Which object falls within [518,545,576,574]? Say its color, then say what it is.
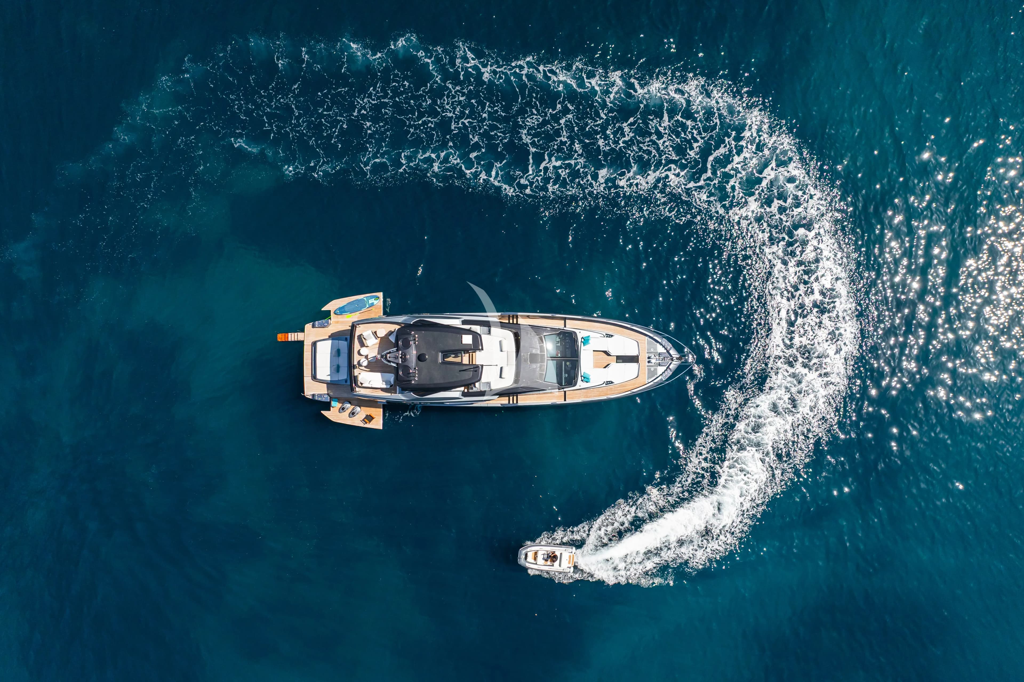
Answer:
white boat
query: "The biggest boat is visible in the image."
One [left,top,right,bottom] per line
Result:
[277,292,696,429]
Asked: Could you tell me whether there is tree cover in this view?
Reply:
No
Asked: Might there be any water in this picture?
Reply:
Yes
